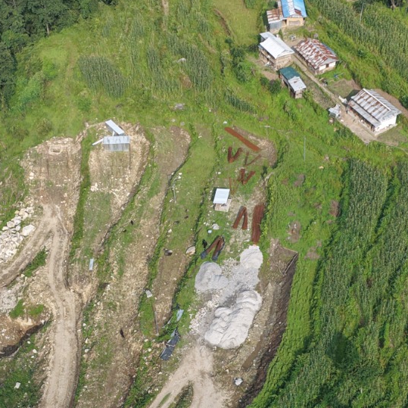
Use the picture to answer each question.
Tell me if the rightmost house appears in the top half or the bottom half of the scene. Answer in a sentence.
The rightmost house is in the top half of the image.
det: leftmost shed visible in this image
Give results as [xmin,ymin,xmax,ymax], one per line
[103,136,129,151]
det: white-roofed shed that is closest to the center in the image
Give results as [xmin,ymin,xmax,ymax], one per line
[211,188,229,214]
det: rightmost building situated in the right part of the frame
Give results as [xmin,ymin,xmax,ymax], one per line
[351,88,401,129]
